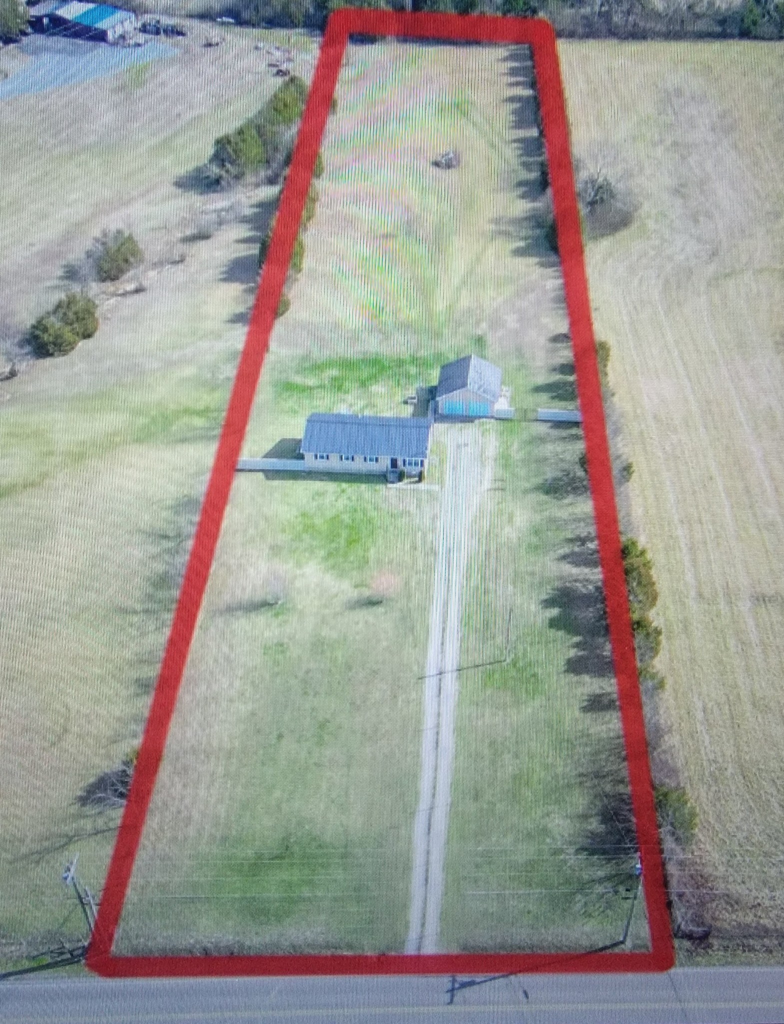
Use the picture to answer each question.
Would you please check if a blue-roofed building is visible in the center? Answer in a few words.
Yes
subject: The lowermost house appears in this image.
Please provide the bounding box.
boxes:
[300,413,429,475]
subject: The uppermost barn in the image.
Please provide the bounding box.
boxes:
[23,0,130,41]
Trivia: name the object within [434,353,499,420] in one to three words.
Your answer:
building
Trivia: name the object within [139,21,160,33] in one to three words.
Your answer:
vehicle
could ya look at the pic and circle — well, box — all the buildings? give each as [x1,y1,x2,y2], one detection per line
[23,0,130,41]
[434,353,499,420]
[300,413,429,475]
